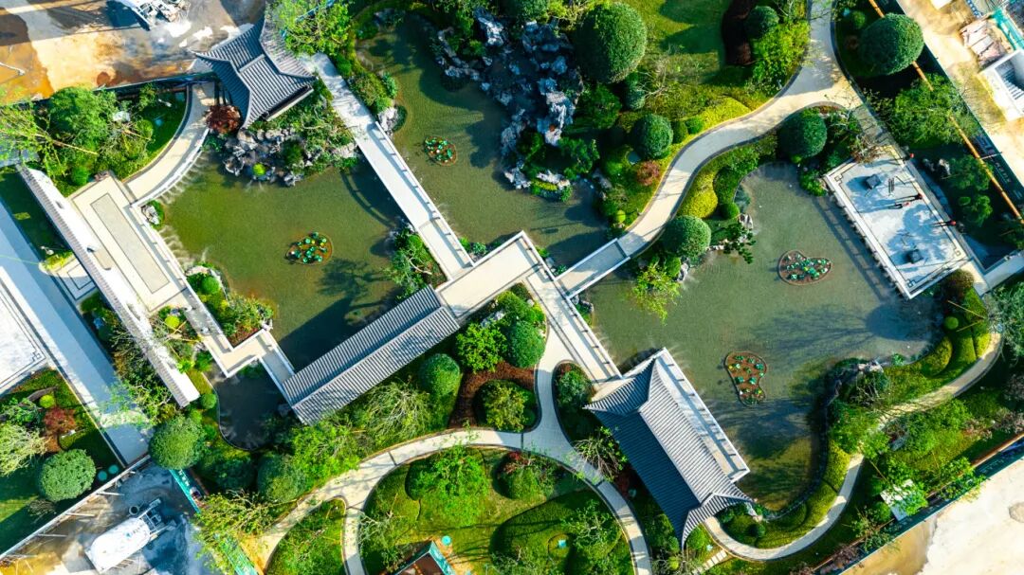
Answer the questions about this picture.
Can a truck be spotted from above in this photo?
Yes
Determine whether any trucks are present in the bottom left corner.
Yes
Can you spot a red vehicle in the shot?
No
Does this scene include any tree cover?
Yes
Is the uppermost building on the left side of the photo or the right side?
left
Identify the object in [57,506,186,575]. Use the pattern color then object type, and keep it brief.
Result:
white truck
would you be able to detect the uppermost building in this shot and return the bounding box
[192,1,323,131]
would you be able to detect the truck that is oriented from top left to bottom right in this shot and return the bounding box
[108,0,170,37]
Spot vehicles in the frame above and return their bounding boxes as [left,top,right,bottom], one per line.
[57,506,186,575]
[108,0,170,37]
